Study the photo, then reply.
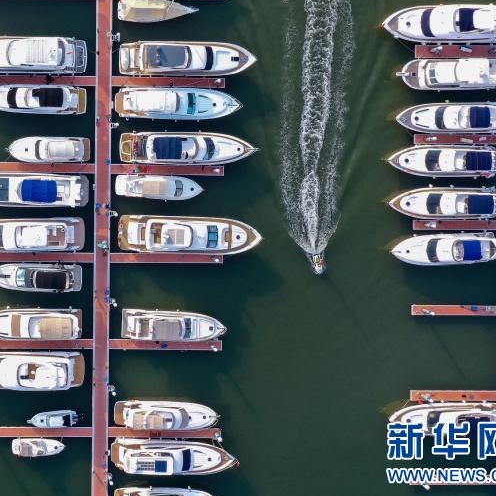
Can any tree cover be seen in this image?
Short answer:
No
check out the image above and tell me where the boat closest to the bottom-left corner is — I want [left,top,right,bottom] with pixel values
[12,437,66,458]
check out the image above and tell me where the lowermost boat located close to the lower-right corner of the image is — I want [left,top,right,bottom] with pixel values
[387,399,496,437]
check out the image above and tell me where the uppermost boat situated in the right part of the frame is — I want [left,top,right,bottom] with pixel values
[380,5,496,46]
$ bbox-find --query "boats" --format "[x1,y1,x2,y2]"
[110,435,240,479]
[109,214,265,255]
[109,128,260,168]
[110,39,258,80]
[110,483,213,496]
[27,410,80,431]
[389,232,496,265]
[109,172,205,204]
[311,253,323,273]
[111,84,243,122]
[0,261,91,296]
[110,396,219,434]
[8,133,93,166]
[397,58,496,92]
[0,33,93,76]
[393,101,496,133]
[386,145,496,178]
[109,307,227,345]
[387,399,496,437]
[380,5,496,46]
[12,437,66,458]
[0,349,93,393]
[0,170,92,210]
[386,186,496,219]
[0,215,93,255]
[0,305,93,341]
[0,82,92,117]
